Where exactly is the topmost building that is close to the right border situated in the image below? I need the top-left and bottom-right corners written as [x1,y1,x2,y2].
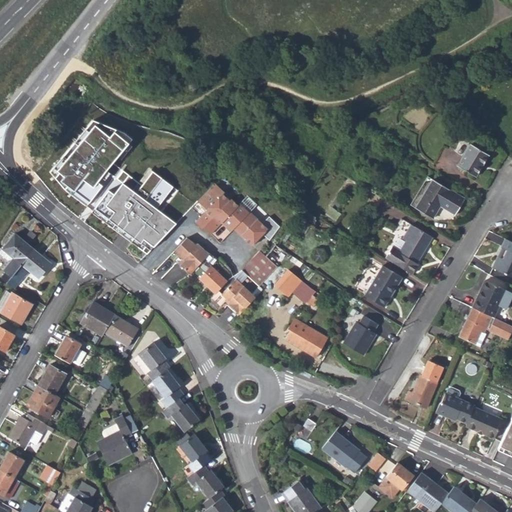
[458,144,491,178]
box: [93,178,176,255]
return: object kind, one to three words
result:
building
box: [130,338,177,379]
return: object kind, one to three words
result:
house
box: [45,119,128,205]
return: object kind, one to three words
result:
building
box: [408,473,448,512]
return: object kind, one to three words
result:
house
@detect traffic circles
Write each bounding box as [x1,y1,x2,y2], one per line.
[232,374,263,406]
